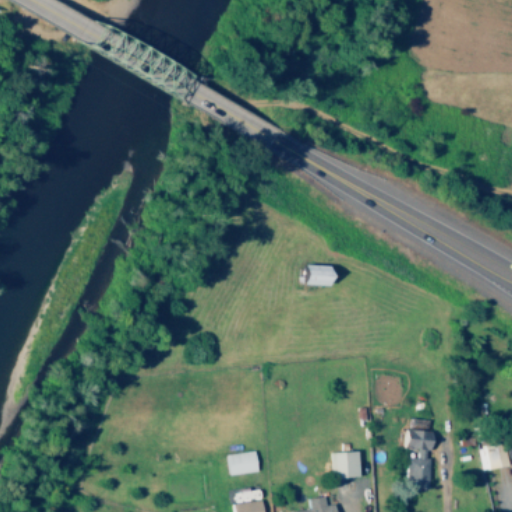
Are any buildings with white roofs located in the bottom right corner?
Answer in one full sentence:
Yes, there is a building with a white roof in the bottom right corner.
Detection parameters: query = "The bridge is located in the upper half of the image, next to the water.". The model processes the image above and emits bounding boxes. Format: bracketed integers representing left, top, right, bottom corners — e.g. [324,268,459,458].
[7,0,288,158]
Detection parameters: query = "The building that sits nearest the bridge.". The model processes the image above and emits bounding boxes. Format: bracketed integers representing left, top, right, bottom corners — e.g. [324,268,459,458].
[305,264,340,288]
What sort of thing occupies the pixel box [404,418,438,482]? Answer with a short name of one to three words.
house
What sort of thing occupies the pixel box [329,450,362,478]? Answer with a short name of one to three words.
building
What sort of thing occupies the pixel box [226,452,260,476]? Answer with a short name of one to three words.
shed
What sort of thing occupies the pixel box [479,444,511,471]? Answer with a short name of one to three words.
house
